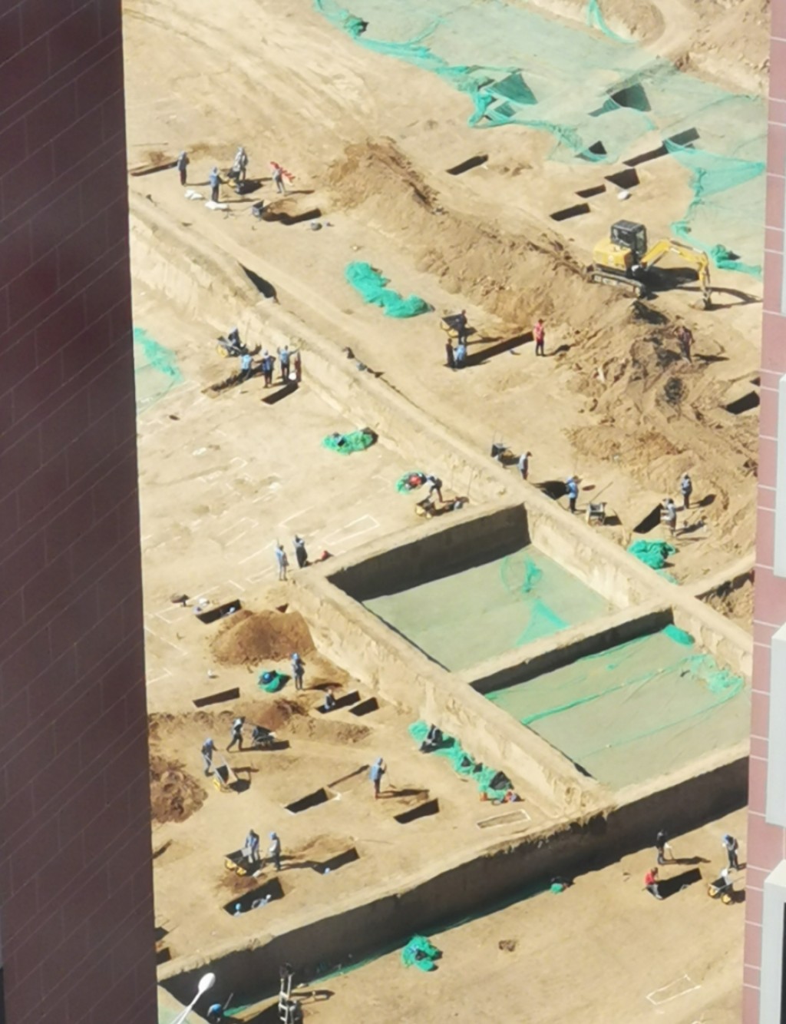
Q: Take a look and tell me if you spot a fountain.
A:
No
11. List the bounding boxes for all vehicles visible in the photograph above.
[590,218,719,300]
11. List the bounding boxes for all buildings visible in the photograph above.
[742,0,786,1024]
[0,0,157,1024]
